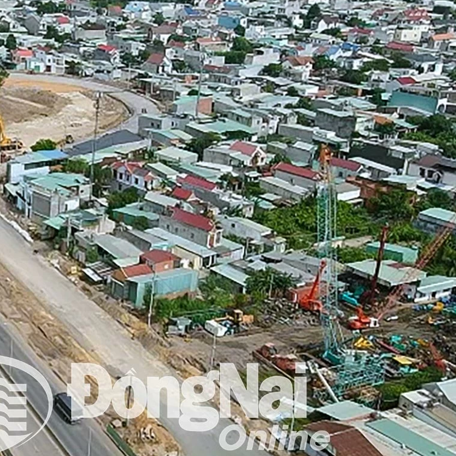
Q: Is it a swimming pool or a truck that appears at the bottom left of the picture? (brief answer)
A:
truck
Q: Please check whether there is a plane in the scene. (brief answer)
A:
No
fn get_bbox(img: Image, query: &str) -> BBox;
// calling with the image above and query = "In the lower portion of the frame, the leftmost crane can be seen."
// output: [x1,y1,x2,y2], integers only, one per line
[299,261,335,316]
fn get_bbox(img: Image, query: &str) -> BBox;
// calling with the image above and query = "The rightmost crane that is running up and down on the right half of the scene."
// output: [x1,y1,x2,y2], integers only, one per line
[357,224,387,311]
